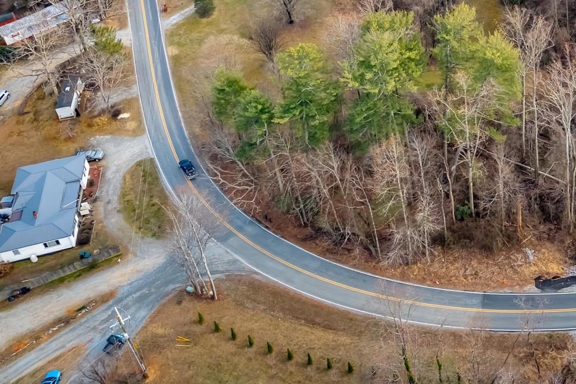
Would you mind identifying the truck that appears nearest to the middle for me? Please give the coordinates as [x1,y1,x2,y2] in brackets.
[176,155,199,181]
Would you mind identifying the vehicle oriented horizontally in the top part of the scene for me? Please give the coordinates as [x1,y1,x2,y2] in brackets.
[71,145,111,160]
